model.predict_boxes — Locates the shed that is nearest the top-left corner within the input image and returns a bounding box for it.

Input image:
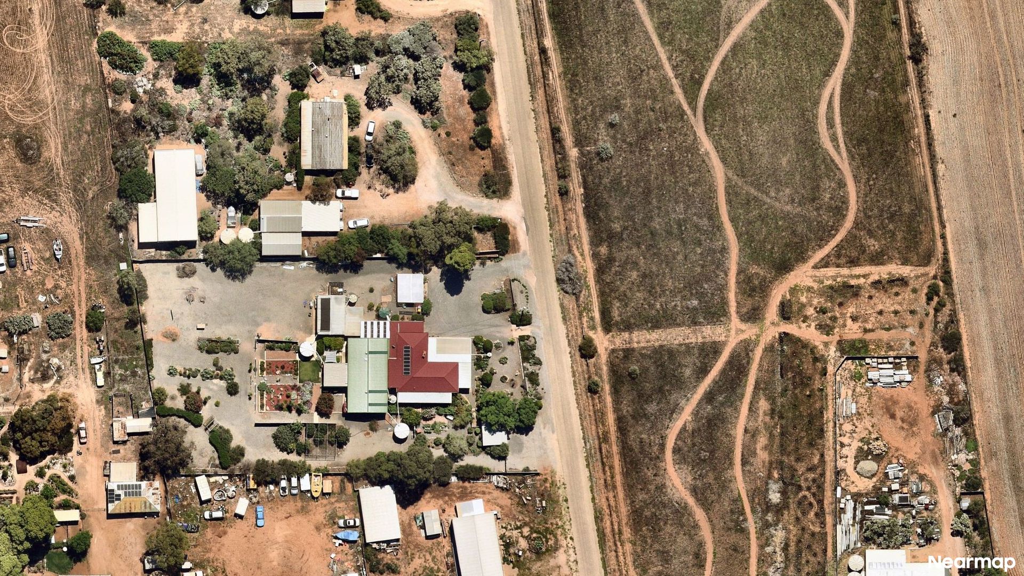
[138,149,197,243]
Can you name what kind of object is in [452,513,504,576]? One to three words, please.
shed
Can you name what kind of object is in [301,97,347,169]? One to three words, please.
house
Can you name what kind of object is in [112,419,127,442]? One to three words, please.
shed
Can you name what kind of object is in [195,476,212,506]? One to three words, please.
camper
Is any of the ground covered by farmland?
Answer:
Yes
